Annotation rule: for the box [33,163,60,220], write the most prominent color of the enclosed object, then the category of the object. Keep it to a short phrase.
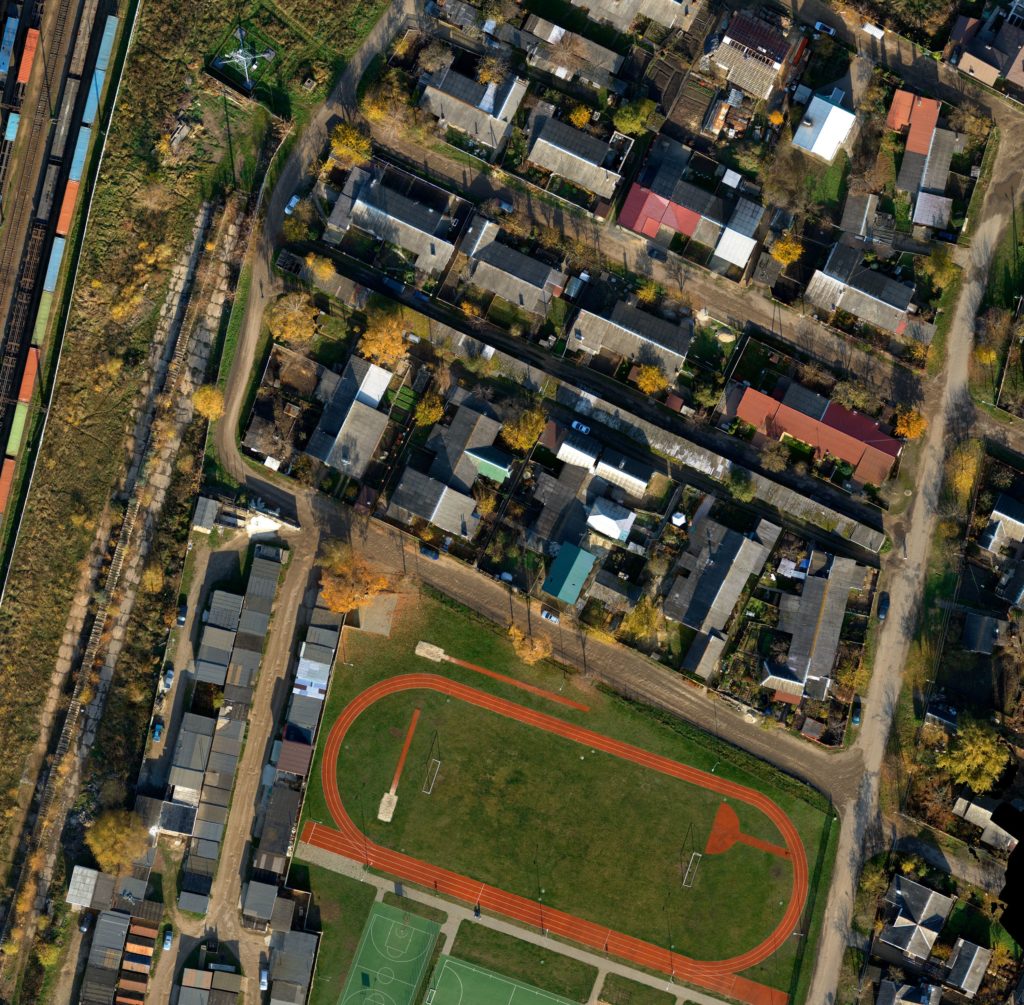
gray rail car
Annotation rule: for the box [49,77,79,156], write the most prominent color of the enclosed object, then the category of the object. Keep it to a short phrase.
gray rail car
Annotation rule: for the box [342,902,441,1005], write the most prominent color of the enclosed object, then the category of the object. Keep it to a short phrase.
green basketball court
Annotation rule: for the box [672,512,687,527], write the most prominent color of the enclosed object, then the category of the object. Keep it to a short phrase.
white gazebo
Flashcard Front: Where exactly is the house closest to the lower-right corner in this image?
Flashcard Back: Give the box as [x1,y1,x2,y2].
[946,939,991,993]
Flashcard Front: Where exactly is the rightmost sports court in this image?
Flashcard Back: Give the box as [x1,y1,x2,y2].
[424,955,580,1005]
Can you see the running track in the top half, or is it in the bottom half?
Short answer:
bottom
